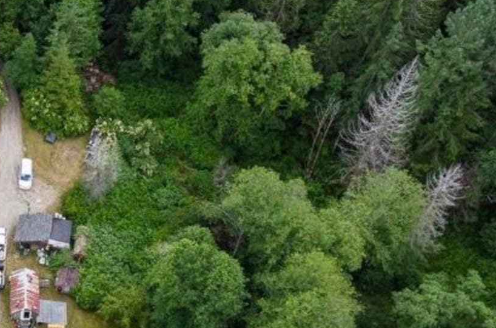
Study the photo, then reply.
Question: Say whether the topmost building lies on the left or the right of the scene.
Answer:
left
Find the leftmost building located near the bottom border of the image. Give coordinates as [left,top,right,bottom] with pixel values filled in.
[10,268,41,328]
